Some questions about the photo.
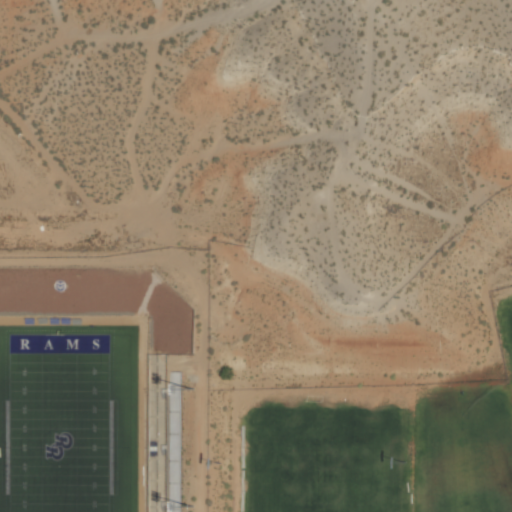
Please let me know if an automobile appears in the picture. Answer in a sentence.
No, there isn't any automobile down there.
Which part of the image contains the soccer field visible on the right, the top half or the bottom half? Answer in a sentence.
The soccer field visible on the right is in the bottom half of the image.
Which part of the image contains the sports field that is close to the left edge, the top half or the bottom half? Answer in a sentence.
The bottom half of the photo is where the sports field that is close to the left edge is.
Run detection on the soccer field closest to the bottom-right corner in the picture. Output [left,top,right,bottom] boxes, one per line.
[244,398,414,512]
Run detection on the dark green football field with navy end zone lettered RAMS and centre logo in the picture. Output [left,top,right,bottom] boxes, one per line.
[0,325,140,512]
